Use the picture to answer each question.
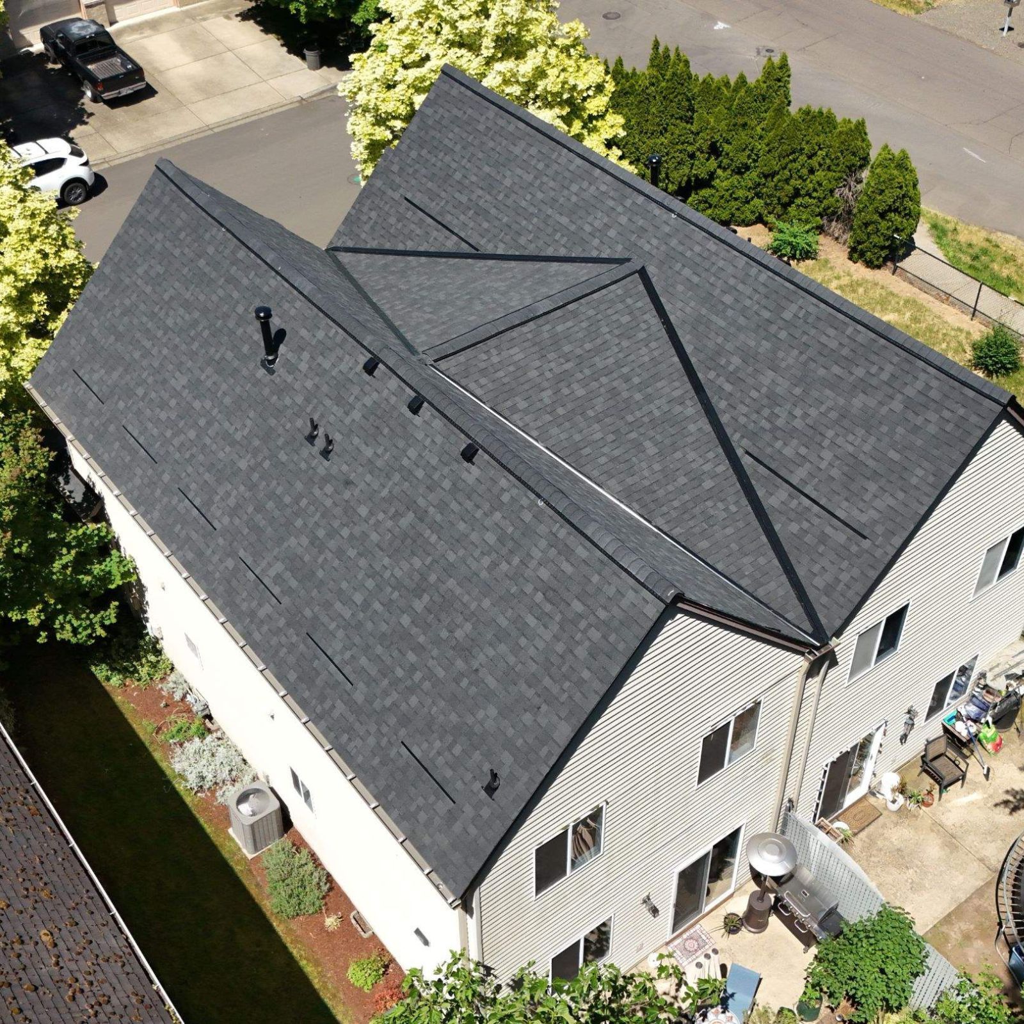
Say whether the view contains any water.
No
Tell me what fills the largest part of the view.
buildings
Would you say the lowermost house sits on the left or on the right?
left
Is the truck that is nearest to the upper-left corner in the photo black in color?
Yes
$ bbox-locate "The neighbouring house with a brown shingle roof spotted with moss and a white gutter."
[0,723,185,1024]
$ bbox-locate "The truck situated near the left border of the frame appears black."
[40,21,149,100]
